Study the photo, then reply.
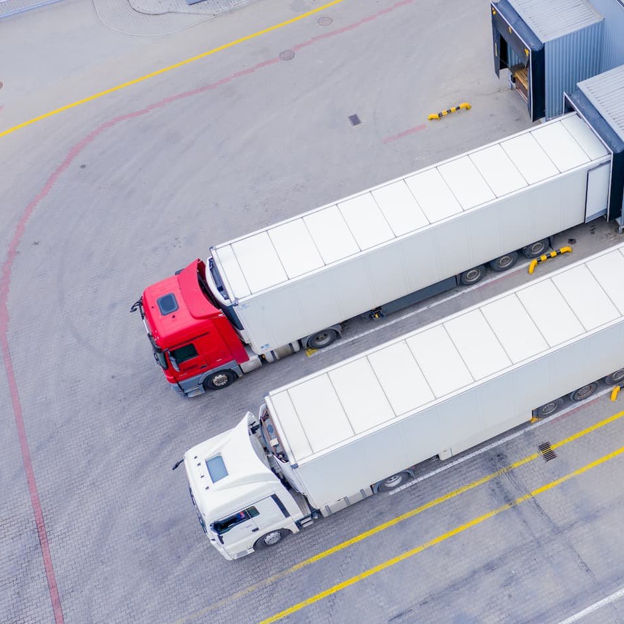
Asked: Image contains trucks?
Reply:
Yes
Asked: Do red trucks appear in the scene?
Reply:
Yes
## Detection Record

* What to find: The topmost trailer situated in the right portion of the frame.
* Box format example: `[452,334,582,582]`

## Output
[207,112,610,355]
